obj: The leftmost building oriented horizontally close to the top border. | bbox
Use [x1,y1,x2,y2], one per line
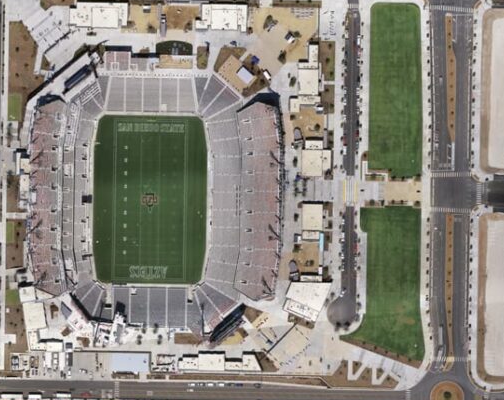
[70,2,128,28]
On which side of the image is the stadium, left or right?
left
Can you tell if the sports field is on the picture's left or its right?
left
